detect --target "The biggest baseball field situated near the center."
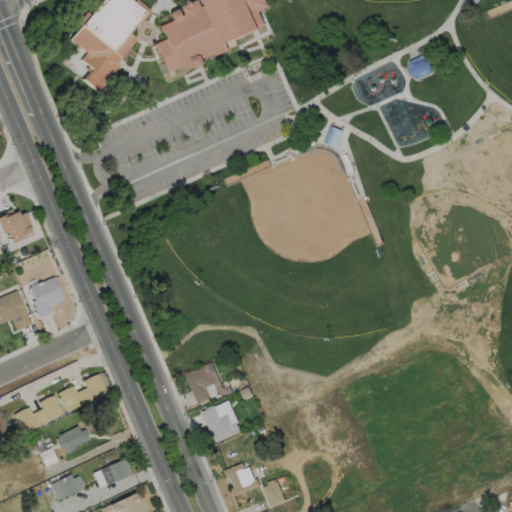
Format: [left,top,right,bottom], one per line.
[166,147,390,338]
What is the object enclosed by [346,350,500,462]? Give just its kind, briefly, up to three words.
sports field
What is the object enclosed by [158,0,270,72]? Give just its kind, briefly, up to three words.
building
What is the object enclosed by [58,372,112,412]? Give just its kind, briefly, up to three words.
house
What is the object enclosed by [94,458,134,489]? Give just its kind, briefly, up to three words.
house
